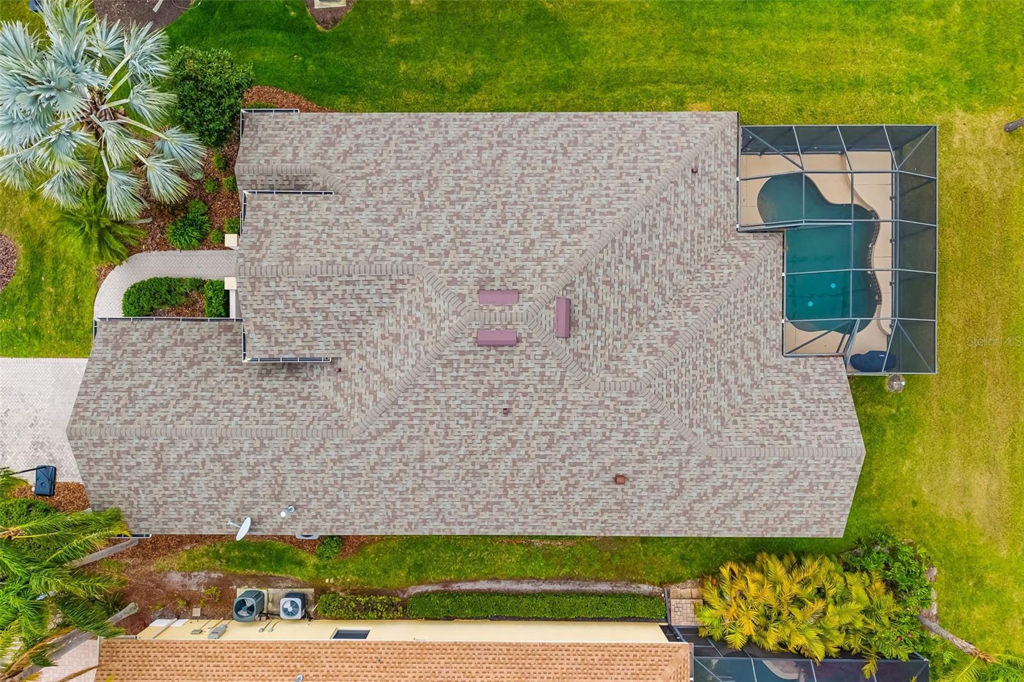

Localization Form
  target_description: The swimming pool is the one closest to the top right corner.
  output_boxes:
[758,172,882,334]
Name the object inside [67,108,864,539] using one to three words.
house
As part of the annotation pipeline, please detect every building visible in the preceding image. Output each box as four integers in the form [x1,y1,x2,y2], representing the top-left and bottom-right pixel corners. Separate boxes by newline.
[89,617,699,682]
[67,108,864,539]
